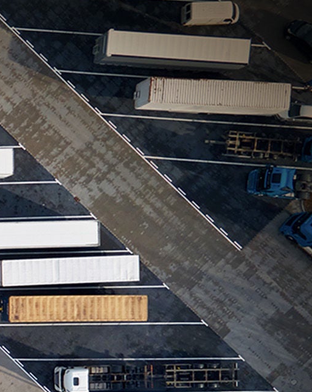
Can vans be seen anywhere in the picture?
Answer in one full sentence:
Yes, there is a van in the image.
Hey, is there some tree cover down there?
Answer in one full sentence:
No, no tree cover is visible.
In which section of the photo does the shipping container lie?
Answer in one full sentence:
You can find the shipping container in the bottom left area of the picture.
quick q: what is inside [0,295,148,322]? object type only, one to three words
shipping container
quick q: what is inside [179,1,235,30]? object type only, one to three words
van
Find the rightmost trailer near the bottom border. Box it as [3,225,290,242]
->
[152,364,238,388]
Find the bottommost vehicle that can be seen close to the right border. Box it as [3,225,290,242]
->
[274,211,312,261]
